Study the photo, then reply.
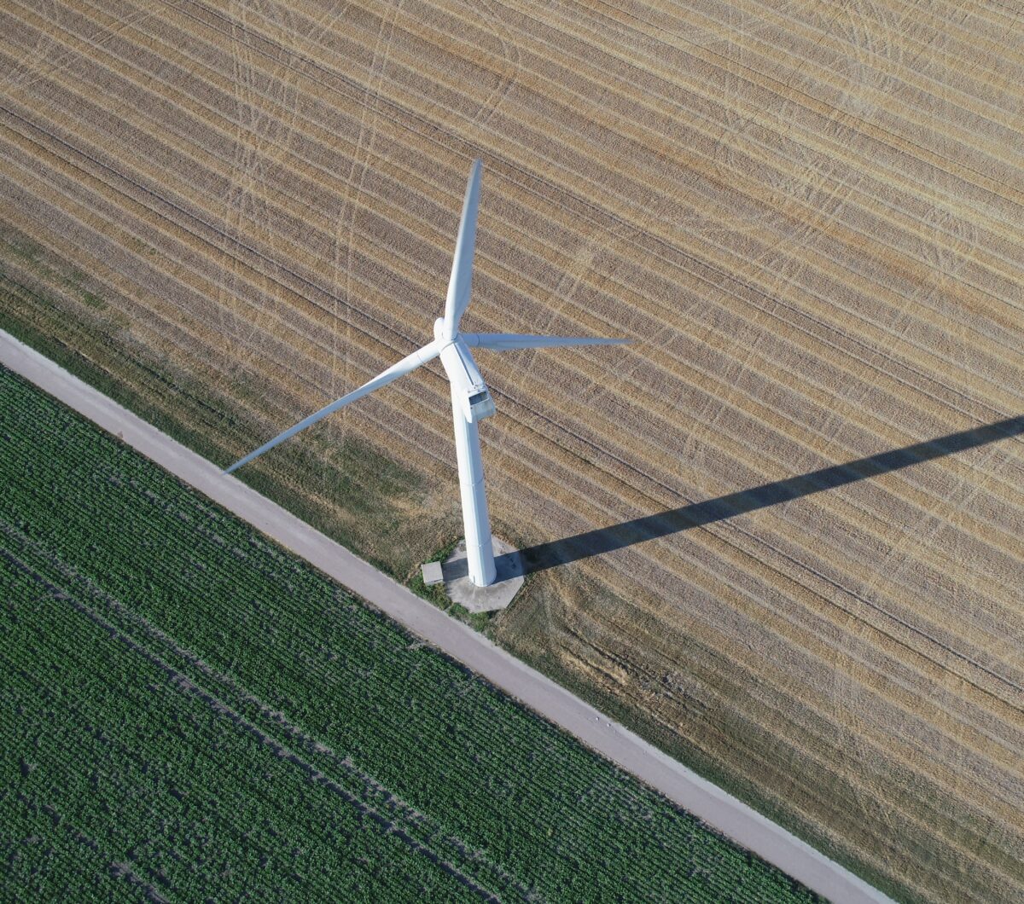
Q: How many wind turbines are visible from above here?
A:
1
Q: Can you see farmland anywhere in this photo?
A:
Yes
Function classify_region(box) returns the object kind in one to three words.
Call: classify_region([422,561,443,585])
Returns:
building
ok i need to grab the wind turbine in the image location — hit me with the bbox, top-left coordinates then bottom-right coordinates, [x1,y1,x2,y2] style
[226,160,632,588]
